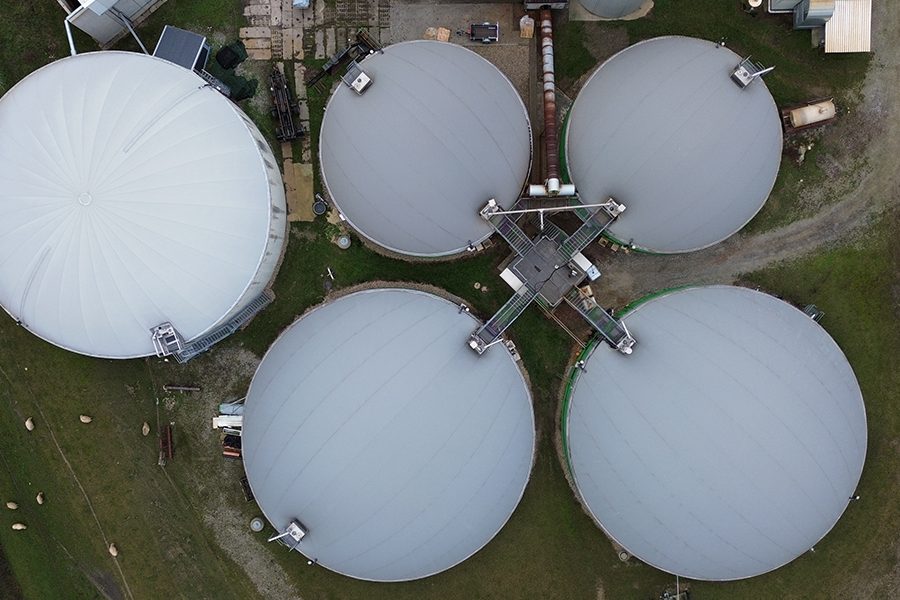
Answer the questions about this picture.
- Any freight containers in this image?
Yes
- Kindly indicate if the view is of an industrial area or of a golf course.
industrial area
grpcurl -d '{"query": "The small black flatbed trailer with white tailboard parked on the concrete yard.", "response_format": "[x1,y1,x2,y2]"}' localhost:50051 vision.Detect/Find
[457,20,498,45]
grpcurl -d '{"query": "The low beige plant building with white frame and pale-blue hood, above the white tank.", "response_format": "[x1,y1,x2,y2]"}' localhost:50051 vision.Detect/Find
[57,0,173,51]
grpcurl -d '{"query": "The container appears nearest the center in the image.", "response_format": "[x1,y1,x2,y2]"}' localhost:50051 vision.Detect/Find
[497,267,525,293]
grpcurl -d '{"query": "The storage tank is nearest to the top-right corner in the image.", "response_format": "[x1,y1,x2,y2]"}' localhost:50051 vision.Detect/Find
[778,98,837,135]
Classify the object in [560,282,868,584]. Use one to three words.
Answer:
storage tank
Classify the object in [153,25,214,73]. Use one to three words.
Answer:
shed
